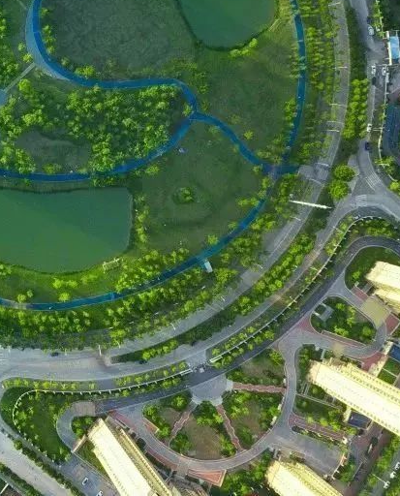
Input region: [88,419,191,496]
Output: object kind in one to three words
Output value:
building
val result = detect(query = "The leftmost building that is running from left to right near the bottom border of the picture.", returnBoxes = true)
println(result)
[268,463,343,496]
